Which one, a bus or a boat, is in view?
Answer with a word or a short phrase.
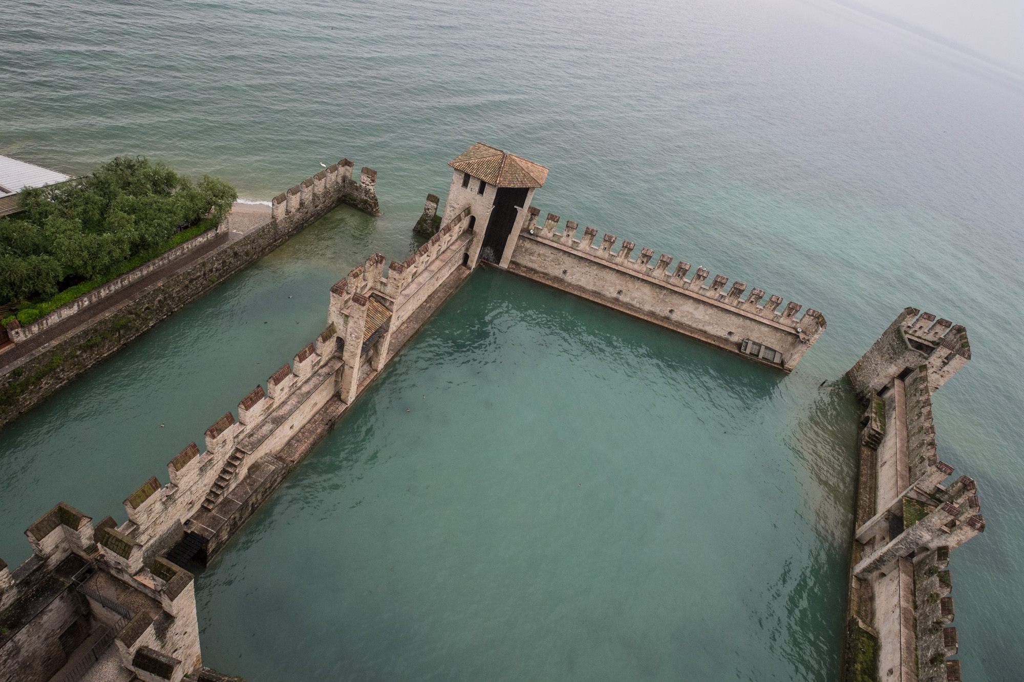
boat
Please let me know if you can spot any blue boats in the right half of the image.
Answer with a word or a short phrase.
No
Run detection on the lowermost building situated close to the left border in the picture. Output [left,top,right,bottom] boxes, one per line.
[0,503,233,682]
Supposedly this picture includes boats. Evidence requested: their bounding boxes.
[737,338,782,363]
